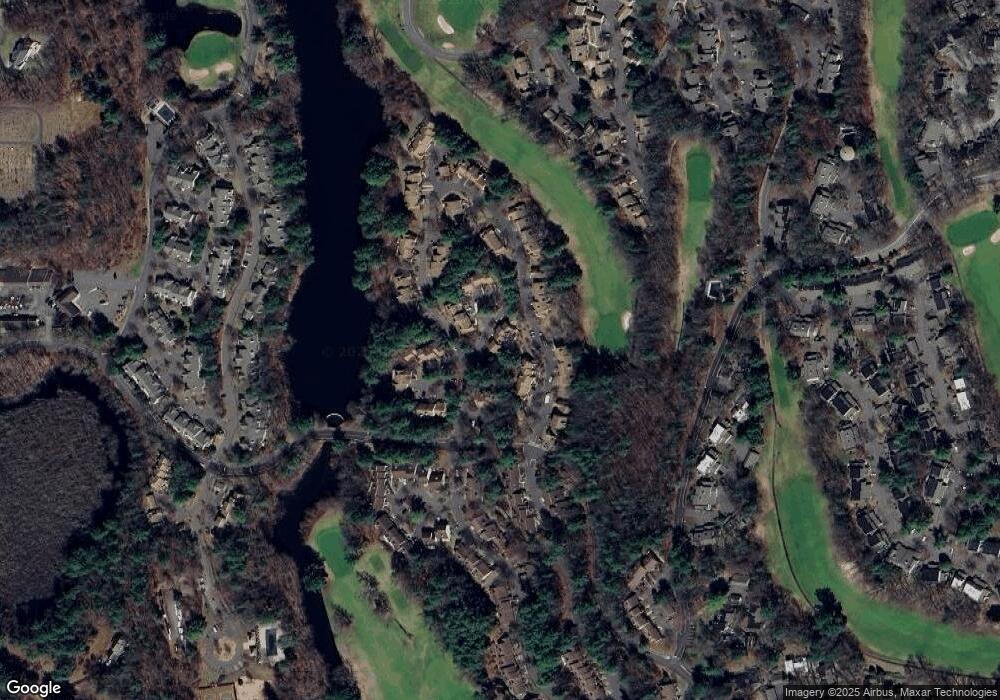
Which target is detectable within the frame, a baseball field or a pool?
pool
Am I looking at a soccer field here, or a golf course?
golf course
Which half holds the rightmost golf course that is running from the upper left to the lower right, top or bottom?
bottom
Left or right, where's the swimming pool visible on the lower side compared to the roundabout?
right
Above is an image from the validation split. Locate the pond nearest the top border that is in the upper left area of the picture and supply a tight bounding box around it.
[145,0,241,51]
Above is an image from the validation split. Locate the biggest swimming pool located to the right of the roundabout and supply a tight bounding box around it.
[261,624,284,662]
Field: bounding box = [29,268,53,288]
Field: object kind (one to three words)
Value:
building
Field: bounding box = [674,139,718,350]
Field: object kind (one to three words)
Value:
golf course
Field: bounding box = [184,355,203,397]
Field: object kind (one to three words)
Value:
house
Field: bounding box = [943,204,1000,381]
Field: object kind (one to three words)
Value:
golf course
